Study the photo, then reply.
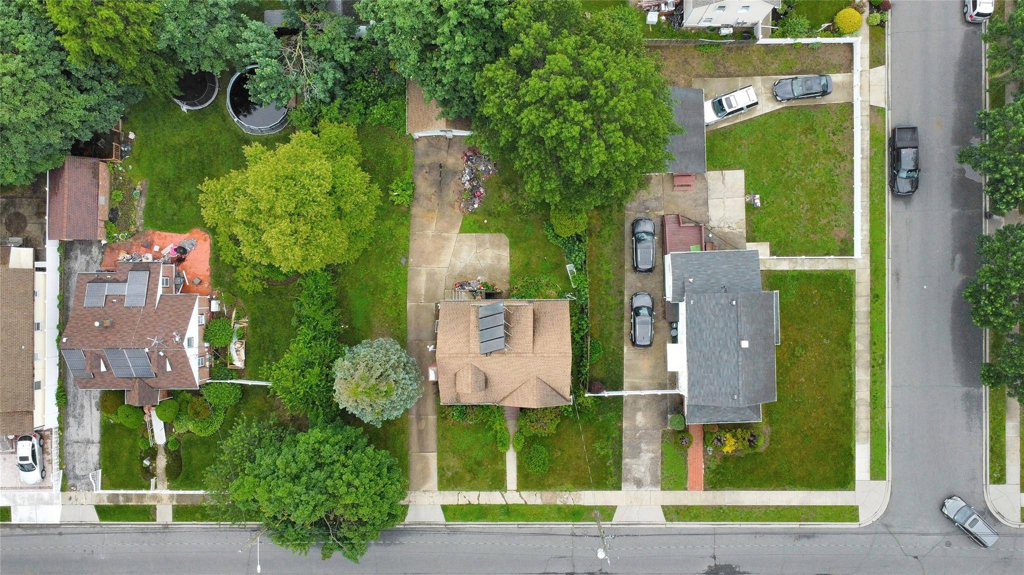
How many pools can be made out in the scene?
1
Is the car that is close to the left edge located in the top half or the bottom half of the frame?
bottom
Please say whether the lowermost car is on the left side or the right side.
right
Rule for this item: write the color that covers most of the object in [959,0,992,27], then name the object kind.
gray vehicle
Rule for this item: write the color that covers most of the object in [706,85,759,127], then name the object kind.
white car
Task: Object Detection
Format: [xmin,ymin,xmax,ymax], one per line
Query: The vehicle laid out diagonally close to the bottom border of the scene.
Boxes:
[937,492,1001,548]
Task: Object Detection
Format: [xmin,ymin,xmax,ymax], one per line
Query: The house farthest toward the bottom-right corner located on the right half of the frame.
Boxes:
[659,249,782,424]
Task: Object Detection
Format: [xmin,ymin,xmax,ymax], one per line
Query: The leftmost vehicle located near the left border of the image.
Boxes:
[17,431,50,486]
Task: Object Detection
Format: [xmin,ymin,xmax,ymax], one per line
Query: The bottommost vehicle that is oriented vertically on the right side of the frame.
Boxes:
[629,292,656,349]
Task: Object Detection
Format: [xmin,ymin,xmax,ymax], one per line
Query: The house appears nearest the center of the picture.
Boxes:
[429,299,574,409]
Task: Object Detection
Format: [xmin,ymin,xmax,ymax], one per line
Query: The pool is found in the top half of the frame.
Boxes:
[227,69,293,133]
